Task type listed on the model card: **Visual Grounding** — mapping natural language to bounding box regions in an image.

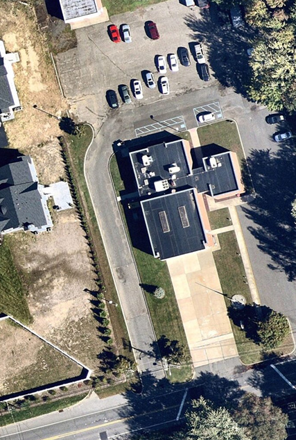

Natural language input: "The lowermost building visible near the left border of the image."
[0,155,51,237]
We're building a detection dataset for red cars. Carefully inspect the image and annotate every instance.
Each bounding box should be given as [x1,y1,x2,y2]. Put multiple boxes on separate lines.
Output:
[108,24,120,43]
[147,21,158,40]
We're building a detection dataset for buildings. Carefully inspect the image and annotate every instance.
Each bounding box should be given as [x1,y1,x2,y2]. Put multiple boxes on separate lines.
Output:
[0,155,51,237]
[0,40,18,111]
[60,0,102,23]
[129,141,243,258]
